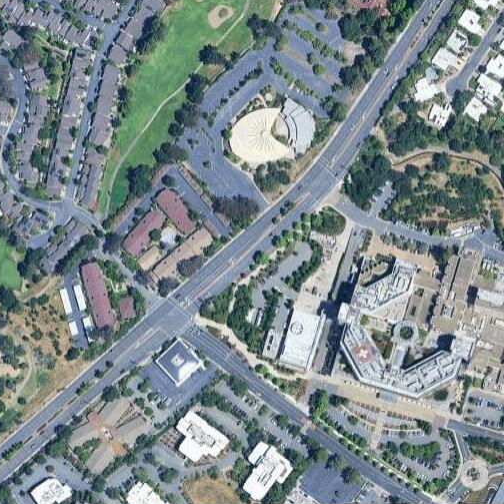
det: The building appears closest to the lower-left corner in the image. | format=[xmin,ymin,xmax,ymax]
[30,477,72,504]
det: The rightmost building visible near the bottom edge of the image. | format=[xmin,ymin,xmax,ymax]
[243,441,294,502]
